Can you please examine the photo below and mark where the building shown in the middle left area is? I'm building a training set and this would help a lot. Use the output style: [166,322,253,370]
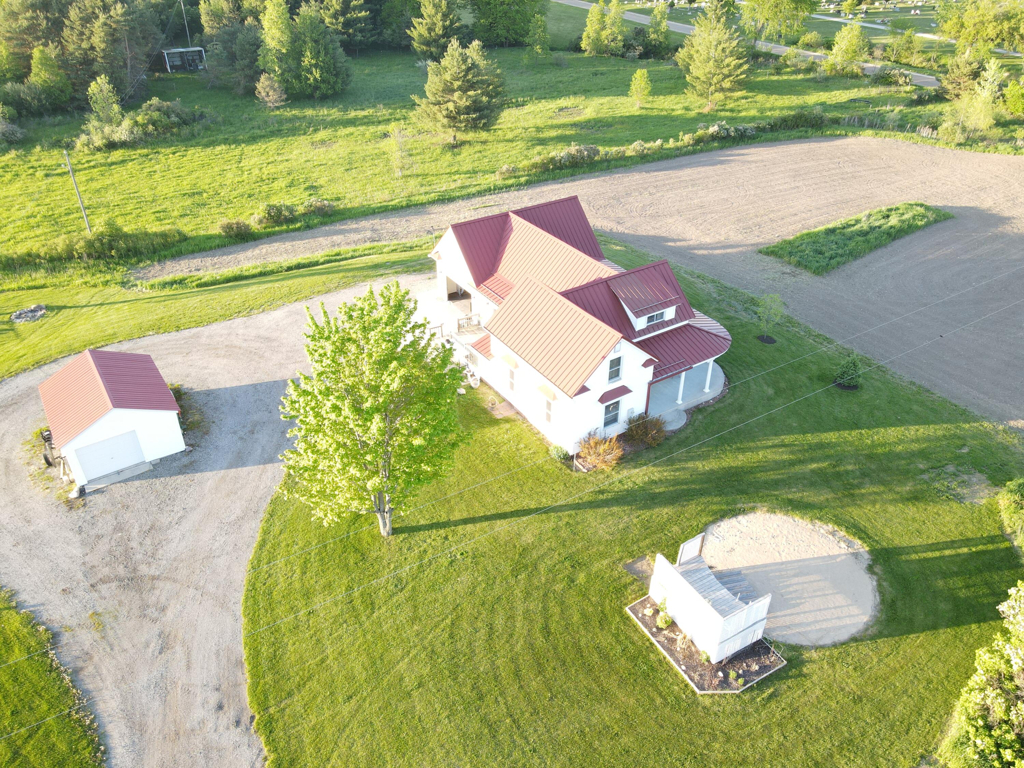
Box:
[37,348,185,493]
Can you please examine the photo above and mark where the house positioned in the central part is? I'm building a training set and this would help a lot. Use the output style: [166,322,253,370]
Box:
[412,195,733,459]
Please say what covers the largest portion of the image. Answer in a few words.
grass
